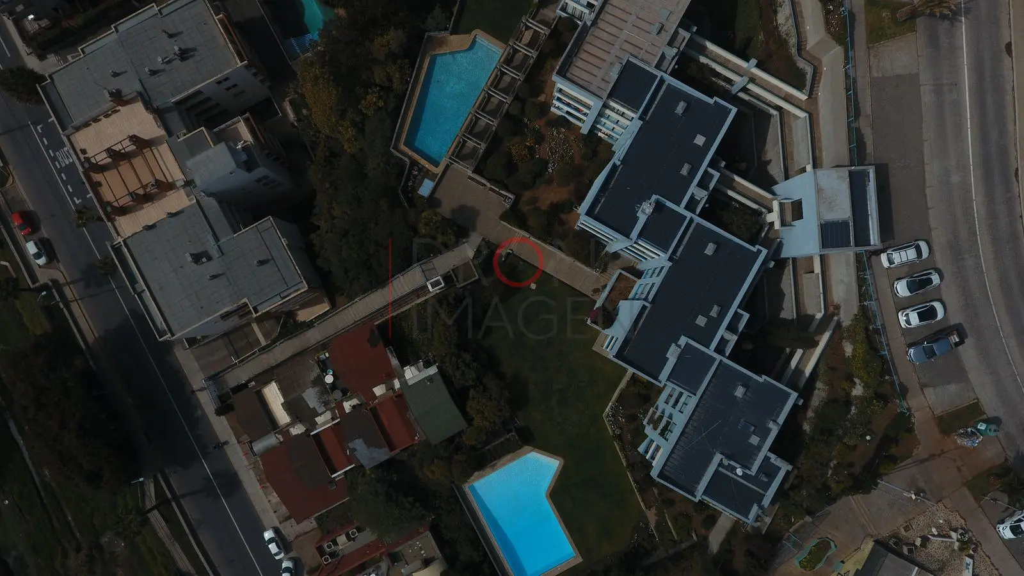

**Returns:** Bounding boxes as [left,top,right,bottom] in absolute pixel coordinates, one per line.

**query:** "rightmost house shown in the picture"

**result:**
[851,537,926,576]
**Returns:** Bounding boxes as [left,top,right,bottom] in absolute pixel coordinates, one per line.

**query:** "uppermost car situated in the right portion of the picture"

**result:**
[877,241,928,268]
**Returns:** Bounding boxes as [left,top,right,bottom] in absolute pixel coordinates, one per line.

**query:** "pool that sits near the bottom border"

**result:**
[463,446,582,576]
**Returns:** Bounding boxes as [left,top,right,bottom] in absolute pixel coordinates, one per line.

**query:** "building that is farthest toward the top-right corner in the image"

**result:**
[771,162,882,258]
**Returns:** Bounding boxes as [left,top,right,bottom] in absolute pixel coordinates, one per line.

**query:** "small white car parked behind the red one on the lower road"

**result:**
[24,237,51,266]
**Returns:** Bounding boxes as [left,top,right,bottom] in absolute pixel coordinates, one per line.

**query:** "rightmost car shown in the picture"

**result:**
[995,504,1024,538]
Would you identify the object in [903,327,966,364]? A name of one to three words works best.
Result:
truck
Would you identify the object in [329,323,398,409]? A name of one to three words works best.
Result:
house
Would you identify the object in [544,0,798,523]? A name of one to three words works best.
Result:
building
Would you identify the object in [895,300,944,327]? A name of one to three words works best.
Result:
car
